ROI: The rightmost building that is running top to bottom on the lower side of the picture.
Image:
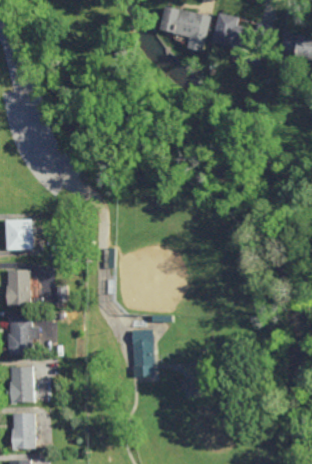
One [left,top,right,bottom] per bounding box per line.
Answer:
[133,330,156,378]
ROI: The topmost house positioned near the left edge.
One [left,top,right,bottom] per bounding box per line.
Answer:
[6,218,34,254]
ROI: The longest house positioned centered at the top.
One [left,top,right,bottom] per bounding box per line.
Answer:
[162,8,212,38]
